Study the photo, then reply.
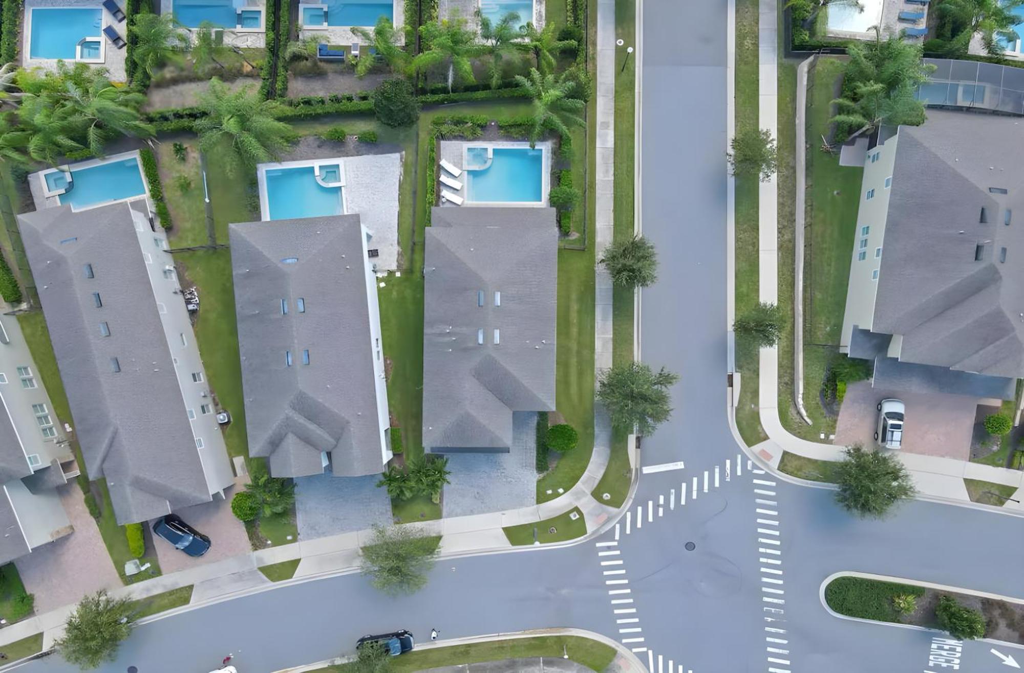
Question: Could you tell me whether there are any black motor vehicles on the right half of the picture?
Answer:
No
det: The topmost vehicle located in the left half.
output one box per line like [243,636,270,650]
[152,513,211,558]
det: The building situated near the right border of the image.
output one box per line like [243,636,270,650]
[843,109,1024,400]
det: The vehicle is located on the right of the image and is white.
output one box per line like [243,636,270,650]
[877,397,911,451]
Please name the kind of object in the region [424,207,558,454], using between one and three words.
house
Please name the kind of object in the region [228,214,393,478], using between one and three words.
house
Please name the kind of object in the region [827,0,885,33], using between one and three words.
swimming pool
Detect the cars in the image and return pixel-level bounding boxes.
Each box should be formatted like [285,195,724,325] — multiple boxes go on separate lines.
[877,397,911,451]
[354,629,413,661]
[190,663,239,673]
[152,513,211,558]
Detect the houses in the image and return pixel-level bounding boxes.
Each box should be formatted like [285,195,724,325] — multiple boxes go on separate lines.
[424,207,558,454]
[843,109,1024,400]
[228,214,393,478]
[16,197,237,525]
[0,244,82,565]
